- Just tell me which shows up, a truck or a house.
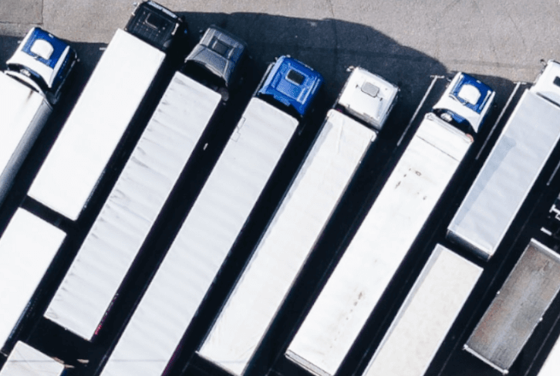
truck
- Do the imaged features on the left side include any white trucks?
Yes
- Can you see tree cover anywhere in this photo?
No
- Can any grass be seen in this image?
No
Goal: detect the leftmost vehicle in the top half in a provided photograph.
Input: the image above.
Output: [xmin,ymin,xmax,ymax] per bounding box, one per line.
[0,25,90,234]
